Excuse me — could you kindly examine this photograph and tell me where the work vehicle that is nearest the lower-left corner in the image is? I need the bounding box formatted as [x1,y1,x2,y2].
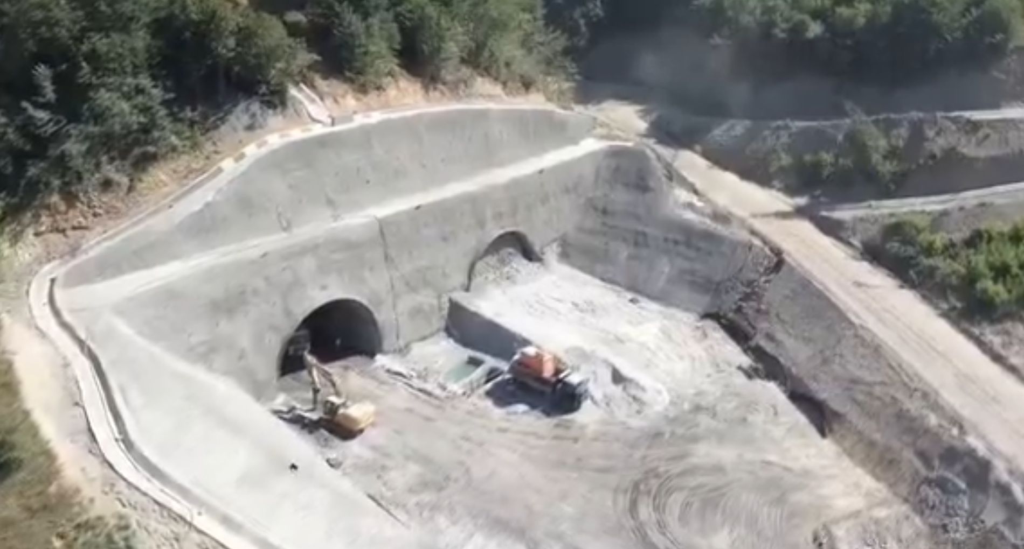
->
[308,350,378,445]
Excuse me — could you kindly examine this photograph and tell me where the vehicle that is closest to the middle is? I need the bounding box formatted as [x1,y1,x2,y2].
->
[508,340,595,413]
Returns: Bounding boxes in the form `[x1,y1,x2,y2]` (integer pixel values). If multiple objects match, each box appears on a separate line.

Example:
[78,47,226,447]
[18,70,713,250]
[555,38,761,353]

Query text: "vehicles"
[508,340,595,413]
[308,350,378,445]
